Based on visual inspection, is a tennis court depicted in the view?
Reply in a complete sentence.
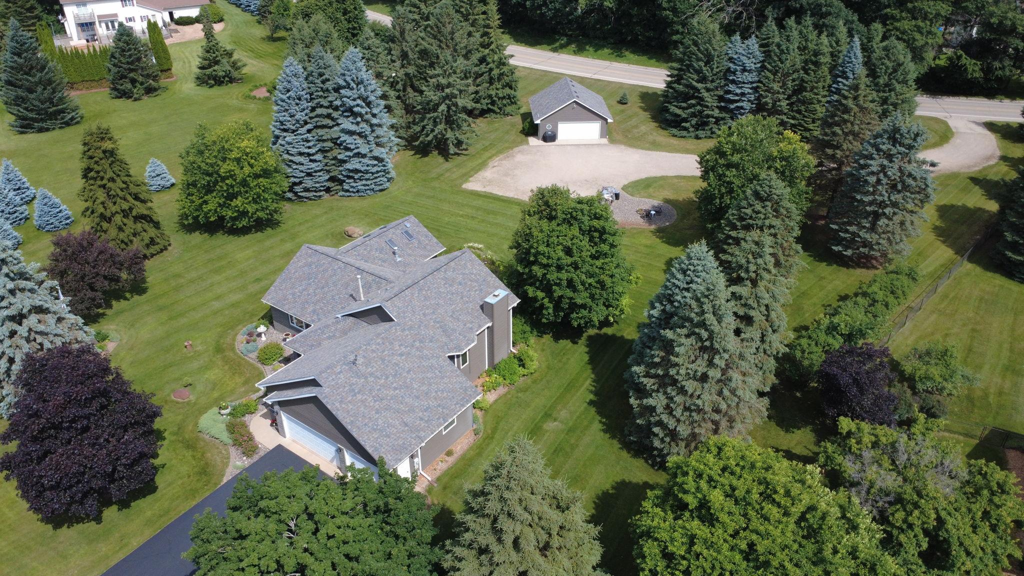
No, there appears to be no tennis court in this shot.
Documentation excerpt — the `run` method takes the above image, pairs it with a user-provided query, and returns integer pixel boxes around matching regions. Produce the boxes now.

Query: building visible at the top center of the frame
[529,77,615,141]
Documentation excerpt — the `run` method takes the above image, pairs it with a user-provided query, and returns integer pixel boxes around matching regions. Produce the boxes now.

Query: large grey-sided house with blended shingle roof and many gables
[255,215,522,496]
